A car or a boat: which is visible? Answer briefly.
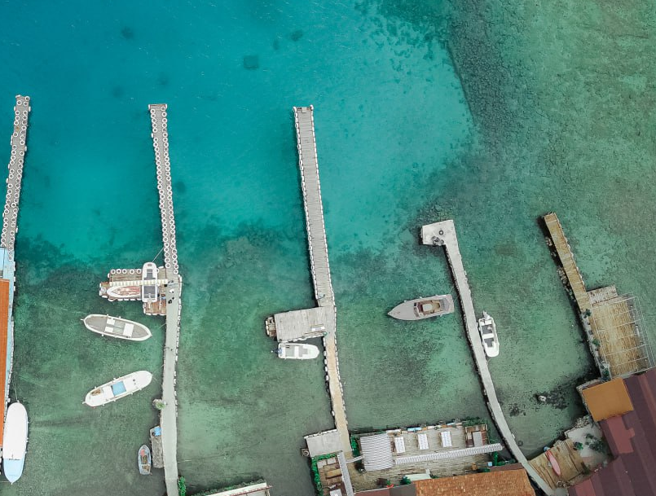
boat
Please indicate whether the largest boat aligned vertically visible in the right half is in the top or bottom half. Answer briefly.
bottom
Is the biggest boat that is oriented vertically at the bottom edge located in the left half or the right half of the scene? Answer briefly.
left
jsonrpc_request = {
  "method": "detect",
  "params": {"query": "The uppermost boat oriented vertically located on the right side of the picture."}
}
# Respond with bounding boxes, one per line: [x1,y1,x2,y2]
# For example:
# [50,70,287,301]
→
[478,314,500,357]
